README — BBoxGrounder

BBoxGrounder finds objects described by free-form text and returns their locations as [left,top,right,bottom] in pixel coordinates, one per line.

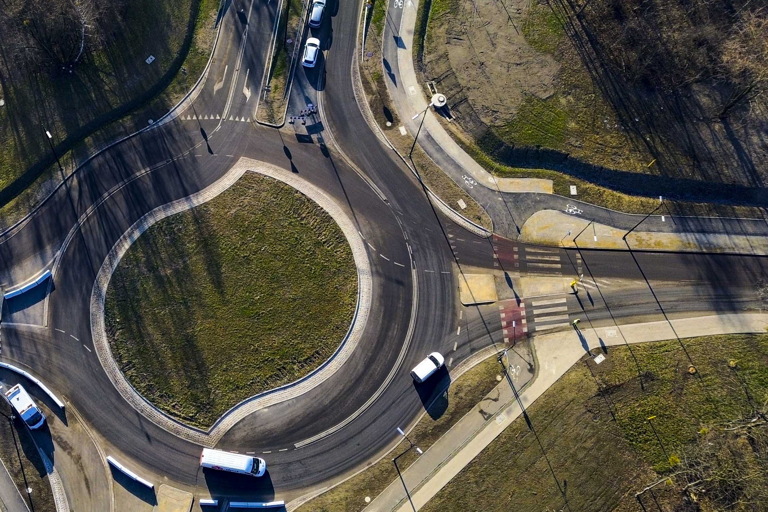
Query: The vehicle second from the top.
[302,37,321,70]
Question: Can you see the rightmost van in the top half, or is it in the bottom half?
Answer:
bottom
